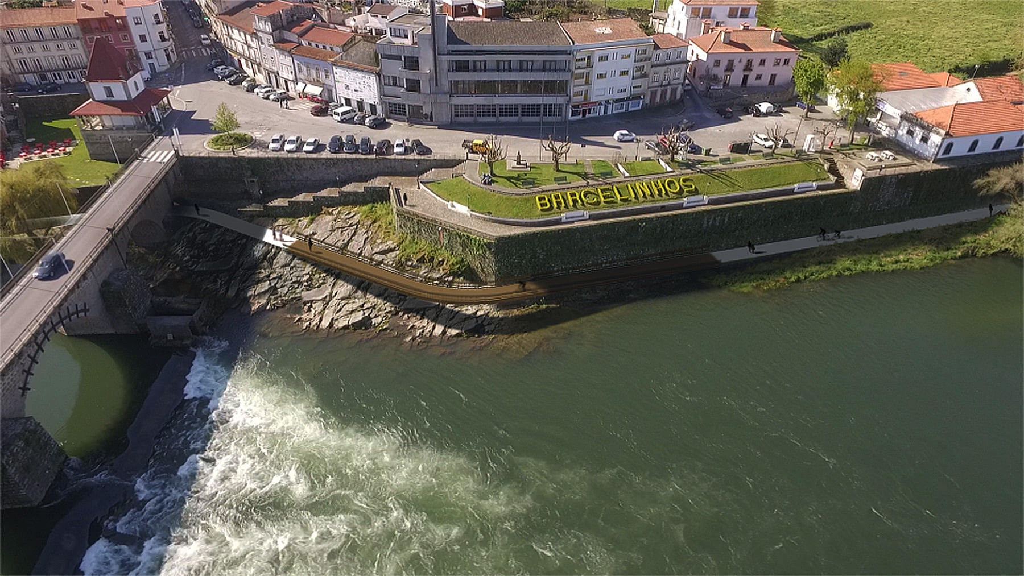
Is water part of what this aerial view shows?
Yes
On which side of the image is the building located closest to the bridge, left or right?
left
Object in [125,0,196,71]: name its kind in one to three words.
house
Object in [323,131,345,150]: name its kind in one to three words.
car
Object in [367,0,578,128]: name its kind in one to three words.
building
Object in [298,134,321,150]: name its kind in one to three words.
car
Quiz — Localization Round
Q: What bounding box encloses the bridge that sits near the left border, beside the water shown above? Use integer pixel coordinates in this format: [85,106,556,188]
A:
[0,139,192,546]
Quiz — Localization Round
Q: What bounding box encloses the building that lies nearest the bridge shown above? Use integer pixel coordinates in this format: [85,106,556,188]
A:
[68,37,171,160]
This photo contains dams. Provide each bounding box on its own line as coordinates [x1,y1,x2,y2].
[40,344,200,576]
